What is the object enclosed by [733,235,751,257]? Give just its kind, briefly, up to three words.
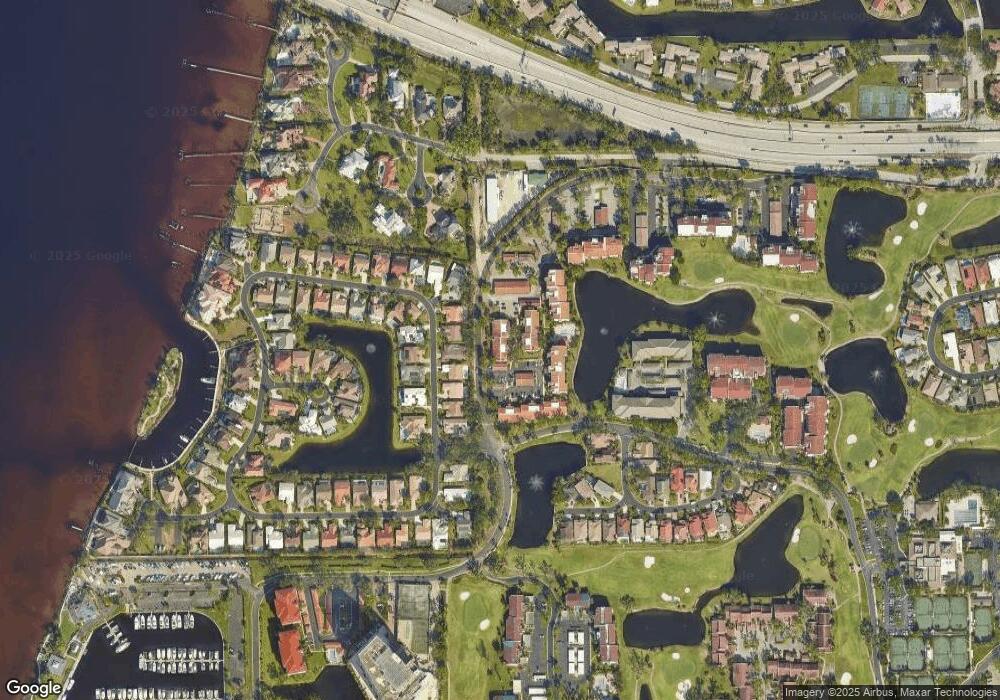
swimming pool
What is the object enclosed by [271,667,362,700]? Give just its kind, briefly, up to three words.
pond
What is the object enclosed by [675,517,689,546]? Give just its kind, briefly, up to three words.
house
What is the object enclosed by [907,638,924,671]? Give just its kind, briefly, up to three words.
tennis court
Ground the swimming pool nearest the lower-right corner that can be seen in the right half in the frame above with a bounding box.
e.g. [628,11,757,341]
[944,493,983,528]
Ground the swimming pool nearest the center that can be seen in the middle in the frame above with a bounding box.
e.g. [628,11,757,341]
[555,323,575,338]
